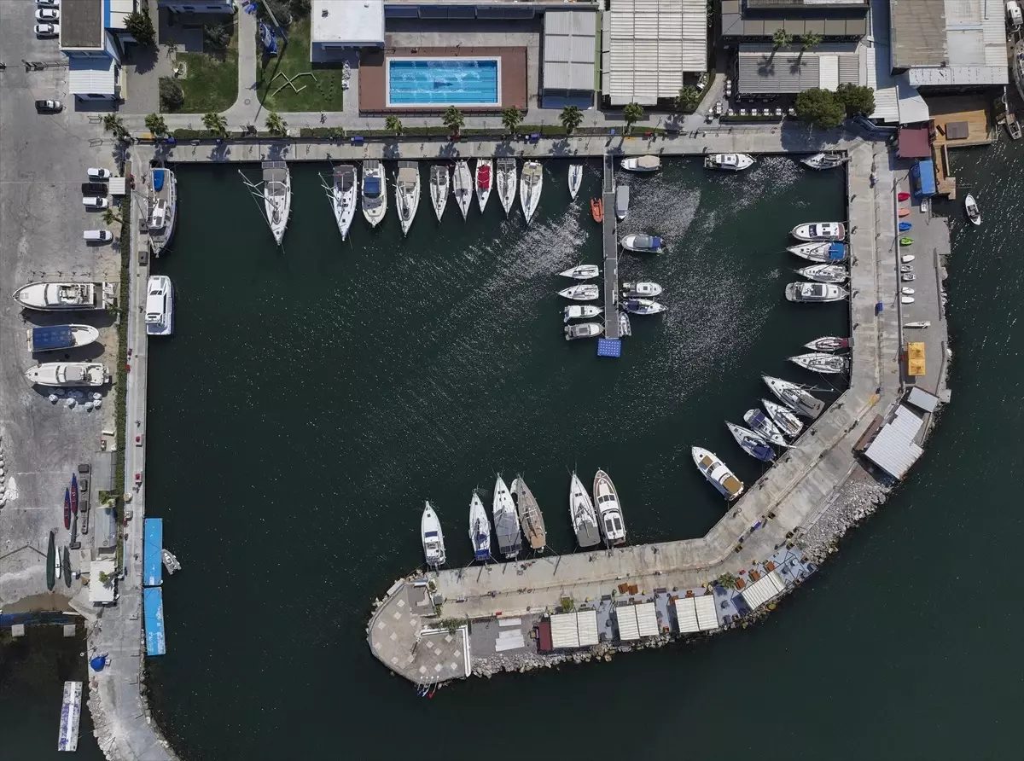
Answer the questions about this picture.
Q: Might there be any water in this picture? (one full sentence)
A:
Yes, water shows up in the scene.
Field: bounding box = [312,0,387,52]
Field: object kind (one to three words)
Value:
building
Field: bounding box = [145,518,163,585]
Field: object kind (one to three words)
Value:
pier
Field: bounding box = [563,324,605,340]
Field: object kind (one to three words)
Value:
boat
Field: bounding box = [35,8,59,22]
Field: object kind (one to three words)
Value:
car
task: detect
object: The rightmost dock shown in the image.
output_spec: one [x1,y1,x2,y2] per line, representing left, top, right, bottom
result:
[932,146,956,200]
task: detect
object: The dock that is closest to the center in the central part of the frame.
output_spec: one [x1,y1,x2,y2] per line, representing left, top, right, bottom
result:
[598,339,620,357]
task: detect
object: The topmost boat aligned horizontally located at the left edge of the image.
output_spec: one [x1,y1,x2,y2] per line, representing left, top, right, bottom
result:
[9,282,118,311]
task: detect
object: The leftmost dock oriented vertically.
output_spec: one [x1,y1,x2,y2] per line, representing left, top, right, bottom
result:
[58,681,84,751]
